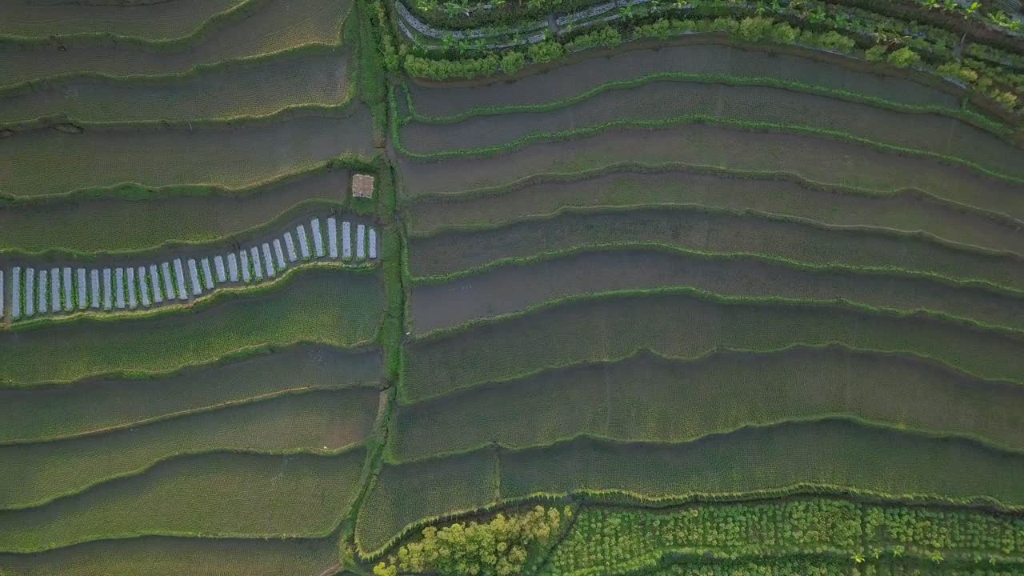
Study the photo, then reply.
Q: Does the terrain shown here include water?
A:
Yes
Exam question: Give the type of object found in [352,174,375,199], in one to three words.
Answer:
shed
